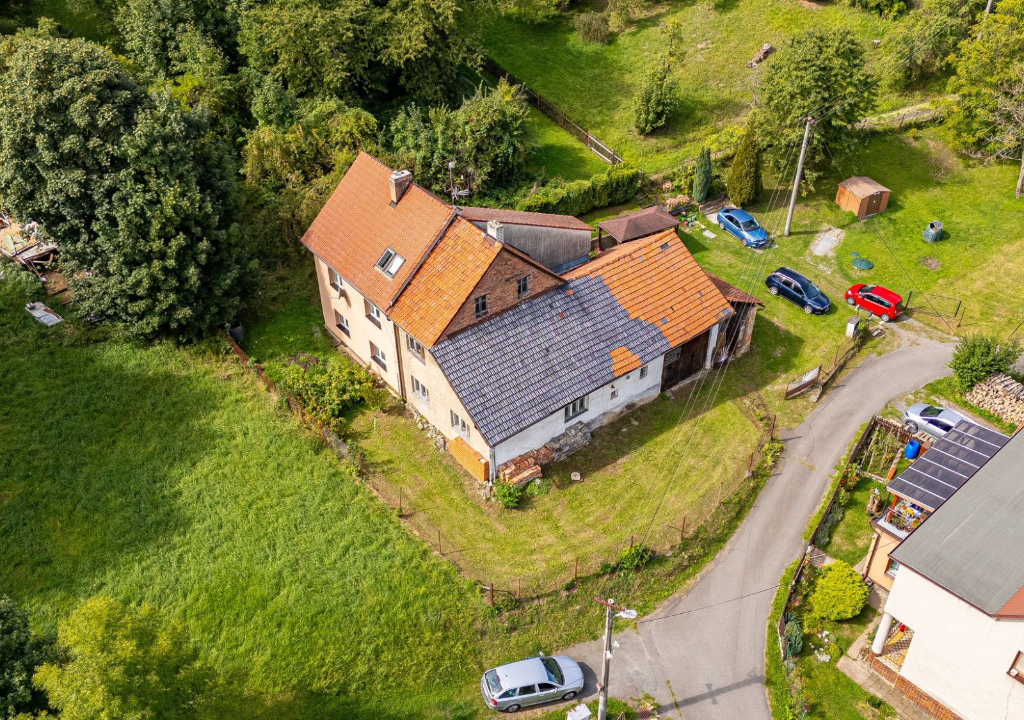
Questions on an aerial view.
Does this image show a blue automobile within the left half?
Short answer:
No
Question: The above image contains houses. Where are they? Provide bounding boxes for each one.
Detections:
[387,209,737,484]
[867,440,1024,720]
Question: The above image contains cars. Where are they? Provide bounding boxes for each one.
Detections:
[846,282,911,322]
[716,206,773,248]
[767,265,837,315]
[904,405,975,448]
[481,648,591,713]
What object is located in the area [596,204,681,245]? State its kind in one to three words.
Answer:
gazebo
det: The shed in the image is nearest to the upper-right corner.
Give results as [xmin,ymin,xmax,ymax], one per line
[835,174,894,218]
